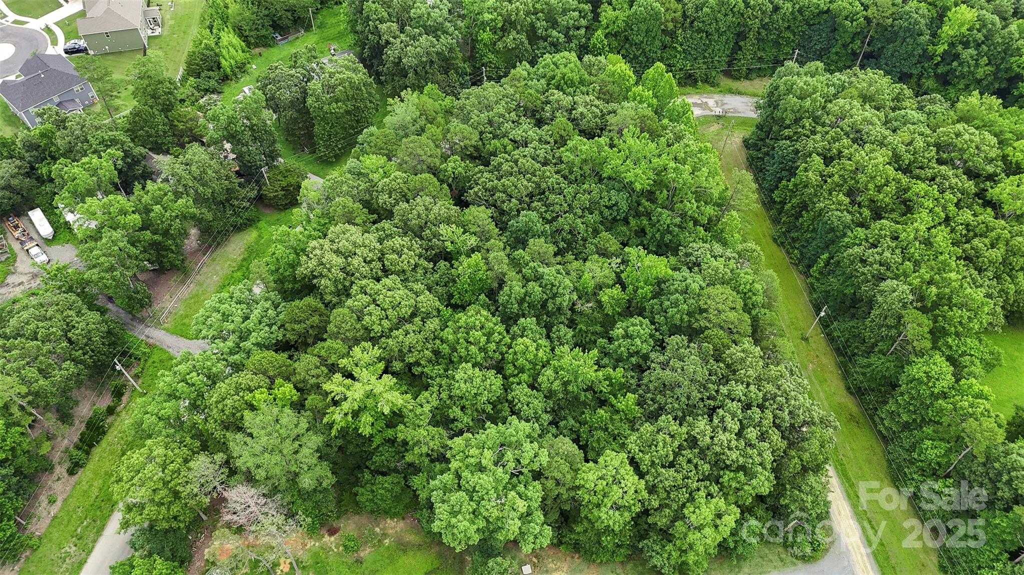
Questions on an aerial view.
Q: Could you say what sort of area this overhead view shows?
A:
forest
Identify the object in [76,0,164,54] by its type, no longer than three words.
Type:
house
